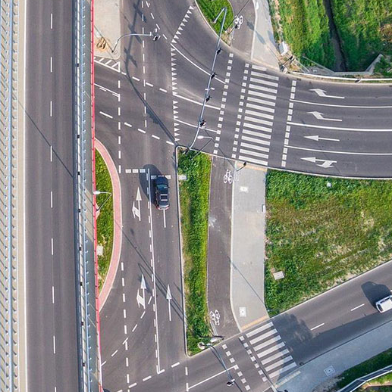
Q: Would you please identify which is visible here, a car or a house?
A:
car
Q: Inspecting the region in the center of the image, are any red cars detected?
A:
No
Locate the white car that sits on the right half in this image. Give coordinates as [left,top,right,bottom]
[372,293,392,314]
